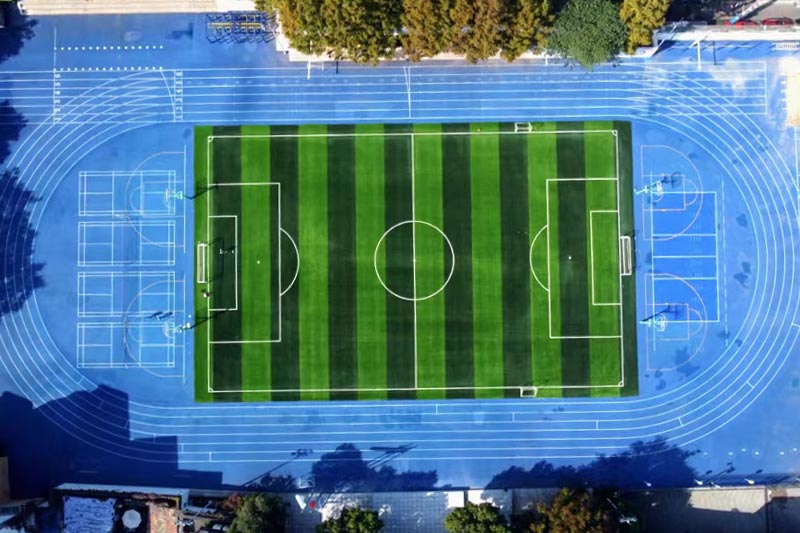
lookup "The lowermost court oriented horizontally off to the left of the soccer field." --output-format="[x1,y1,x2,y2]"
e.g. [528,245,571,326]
[77,323,174,368]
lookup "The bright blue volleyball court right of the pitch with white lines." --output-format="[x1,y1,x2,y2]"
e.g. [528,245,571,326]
[650,172,727,350]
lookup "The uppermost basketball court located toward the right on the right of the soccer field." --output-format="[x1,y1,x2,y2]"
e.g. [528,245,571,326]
[641,145,702,240]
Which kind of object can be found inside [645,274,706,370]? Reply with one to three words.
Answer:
basketball court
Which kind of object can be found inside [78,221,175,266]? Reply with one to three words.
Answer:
sports court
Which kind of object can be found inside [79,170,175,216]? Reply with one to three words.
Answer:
sports court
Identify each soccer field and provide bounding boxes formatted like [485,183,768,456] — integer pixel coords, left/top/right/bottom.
[195,120,638,402]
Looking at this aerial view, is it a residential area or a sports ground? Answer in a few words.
sports ground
